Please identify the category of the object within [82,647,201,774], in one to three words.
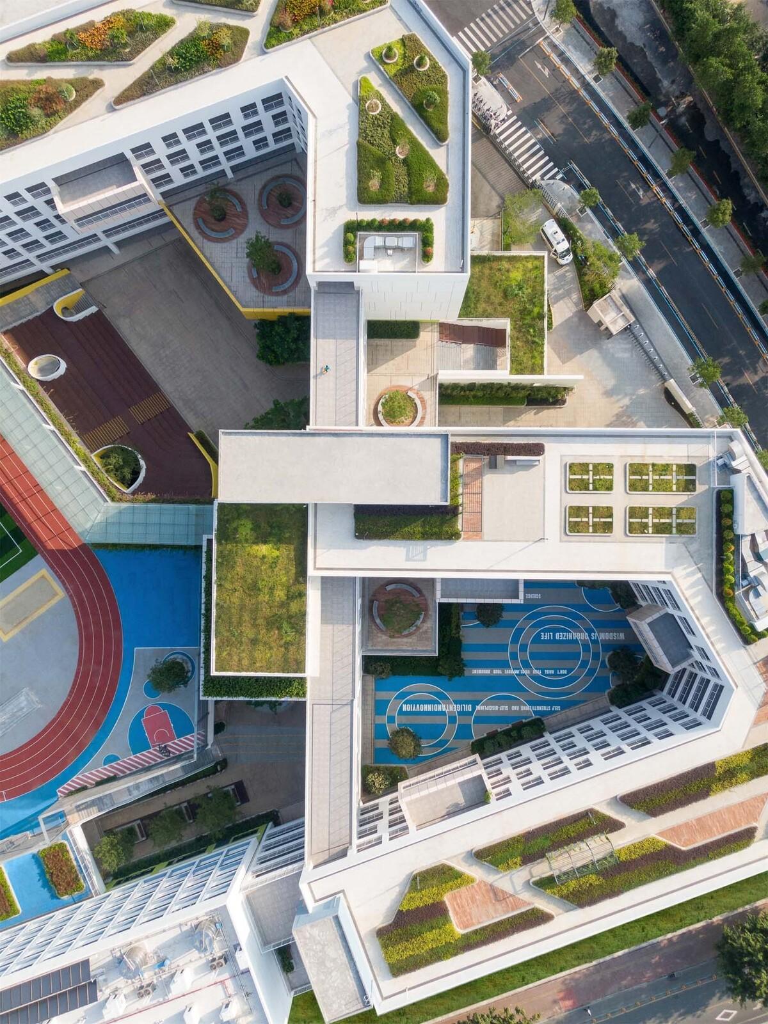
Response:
sports court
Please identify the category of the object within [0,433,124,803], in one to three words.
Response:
running track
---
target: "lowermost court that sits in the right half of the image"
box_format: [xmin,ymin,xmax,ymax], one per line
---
[376,580,657,764]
